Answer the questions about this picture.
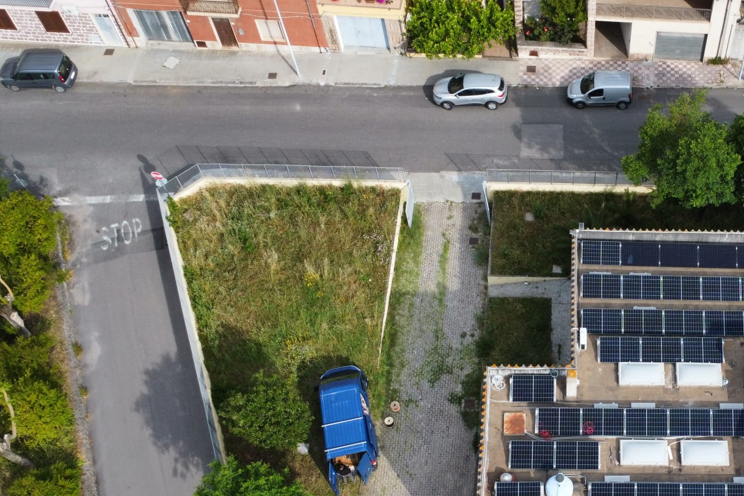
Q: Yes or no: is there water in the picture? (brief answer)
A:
No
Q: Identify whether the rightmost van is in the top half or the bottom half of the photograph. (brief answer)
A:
top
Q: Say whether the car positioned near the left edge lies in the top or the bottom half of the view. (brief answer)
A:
top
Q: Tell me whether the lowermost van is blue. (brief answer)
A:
Yes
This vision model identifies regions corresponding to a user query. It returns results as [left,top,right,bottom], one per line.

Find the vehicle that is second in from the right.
[430,70,509,110]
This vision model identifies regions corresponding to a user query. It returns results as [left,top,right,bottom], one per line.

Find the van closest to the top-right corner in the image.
[568,69,636,110]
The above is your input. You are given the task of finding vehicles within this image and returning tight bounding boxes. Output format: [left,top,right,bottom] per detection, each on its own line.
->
[430,70,509,110]
[318,370,382,490]
[0,52,76,92]
[568,69,636,110]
